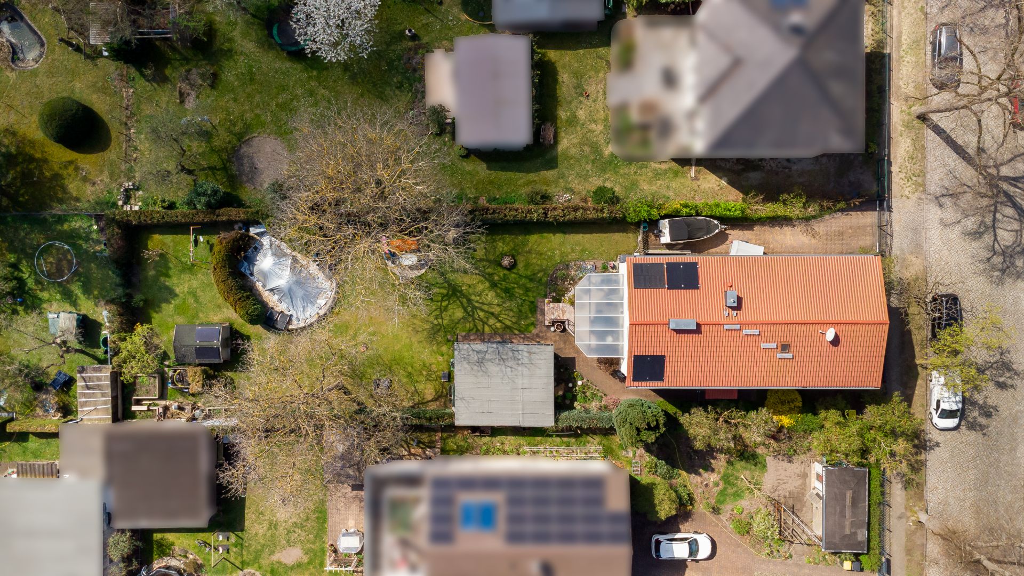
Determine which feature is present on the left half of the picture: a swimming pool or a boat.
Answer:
swimming pool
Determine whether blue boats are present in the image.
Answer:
No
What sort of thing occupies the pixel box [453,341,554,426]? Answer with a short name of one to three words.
building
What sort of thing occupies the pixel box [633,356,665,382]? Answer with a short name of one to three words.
solar panel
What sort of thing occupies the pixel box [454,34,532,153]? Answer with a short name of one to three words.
house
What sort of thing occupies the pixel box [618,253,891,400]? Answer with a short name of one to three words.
house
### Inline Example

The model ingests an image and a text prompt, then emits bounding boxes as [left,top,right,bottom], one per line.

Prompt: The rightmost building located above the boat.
[683,0,866,162]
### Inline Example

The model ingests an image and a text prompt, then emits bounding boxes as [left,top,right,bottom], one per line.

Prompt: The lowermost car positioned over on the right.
[652,530,711,563]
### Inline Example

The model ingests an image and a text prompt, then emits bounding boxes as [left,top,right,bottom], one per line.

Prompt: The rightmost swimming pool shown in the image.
[238,228,338,334]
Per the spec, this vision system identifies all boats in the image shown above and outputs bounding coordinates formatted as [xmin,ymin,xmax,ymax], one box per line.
[653,218,722,243]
